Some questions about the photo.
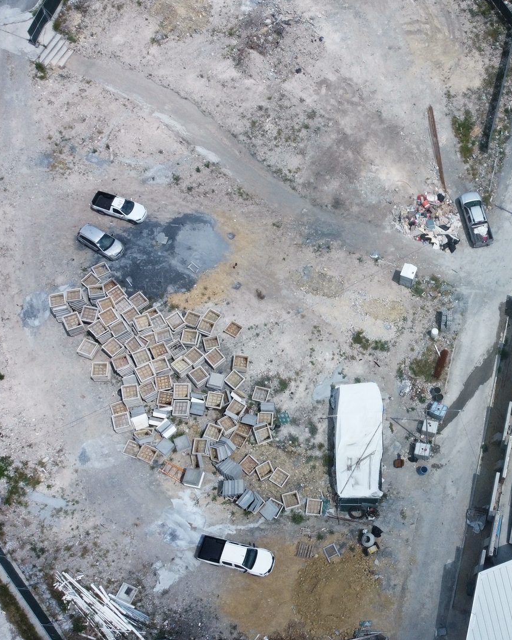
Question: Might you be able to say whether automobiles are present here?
Yes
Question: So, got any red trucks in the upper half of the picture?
No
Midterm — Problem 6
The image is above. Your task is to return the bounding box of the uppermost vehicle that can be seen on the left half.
[86,188,148,227]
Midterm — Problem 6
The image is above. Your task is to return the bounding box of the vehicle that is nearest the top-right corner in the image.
[458,192,494,251]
